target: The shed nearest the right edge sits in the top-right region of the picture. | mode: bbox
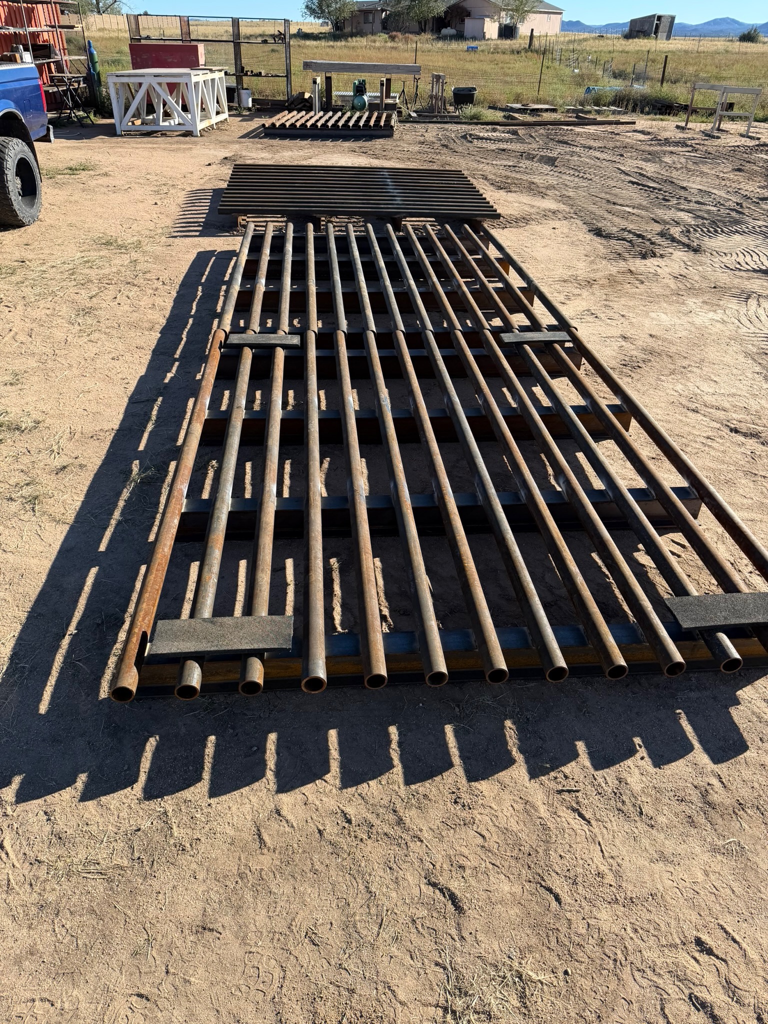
[629,13,677,39]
